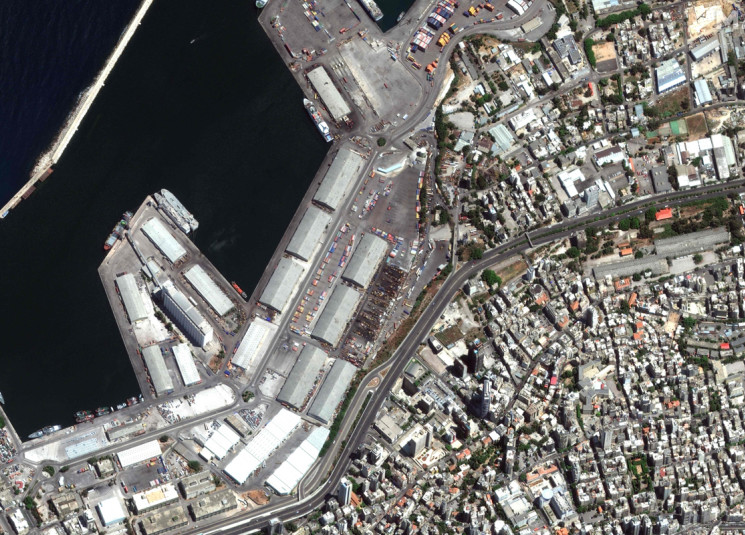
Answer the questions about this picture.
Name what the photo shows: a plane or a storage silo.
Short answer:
storage silo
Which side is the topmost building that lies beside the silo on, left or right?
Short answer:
left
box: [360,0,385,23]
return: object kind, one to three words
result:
ship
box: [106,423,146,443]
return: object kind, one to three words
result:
shed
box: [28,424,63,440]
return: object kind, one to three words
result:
ship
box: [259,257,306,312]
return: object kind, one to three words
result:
building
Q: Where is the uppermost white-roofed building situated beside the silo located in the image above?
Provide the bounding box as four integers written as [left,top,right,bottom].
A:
[141,218,186,264]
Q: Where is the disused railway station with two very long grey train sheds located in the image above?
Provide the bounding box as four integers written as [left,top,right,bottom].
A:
[590,227,729,277]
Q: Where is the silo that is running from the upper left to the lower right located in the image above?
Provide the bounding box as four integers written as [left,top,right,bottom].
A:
[162,280,213,347]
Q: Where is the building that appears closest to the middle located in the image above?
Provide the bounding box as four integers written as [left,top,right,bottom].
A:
[342,232,389,290]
